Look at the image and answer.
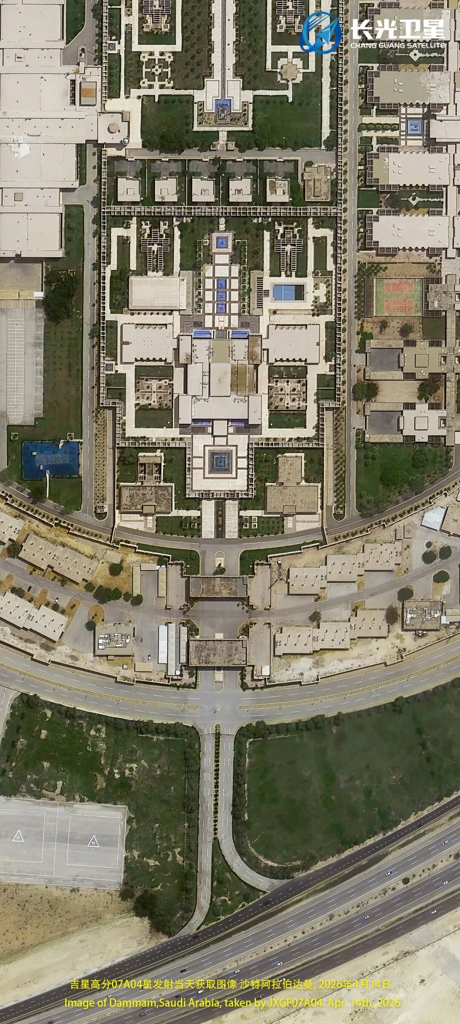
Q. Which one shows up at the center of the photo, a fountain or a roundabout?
fountain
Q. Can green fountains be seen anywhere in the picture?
No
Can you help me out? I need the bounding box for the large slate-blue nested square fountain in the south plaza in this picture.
[208,450,233,474]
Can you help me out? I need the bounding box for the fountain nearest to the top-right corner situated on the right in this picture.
[407,119,423,136]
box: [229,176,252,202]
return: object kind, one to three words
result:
house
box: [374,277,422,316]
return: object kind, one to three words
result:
tennis court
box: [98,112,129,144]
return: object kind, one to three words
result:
building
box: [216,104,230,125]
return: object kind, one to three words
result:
fountain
